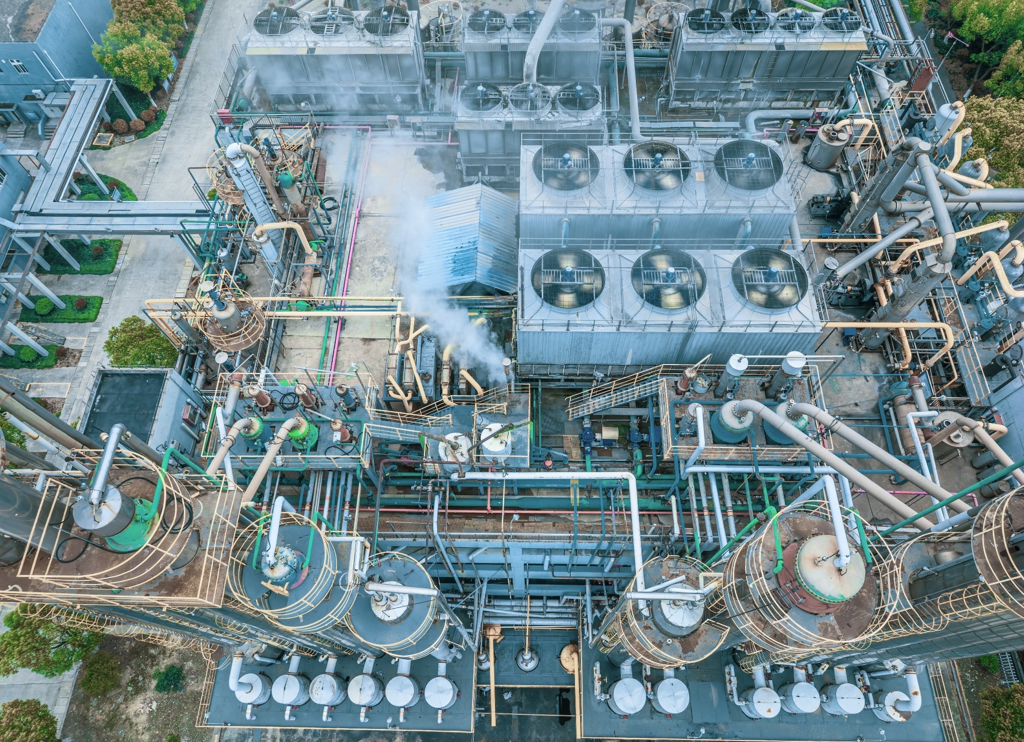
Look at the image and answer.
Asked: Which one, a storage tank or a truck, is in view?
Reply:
storage tank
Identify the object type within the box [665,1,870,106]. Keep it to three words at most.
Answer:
cooling tower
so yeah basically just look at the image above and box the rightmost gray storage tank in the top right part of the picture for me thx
[812,123,862,177]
